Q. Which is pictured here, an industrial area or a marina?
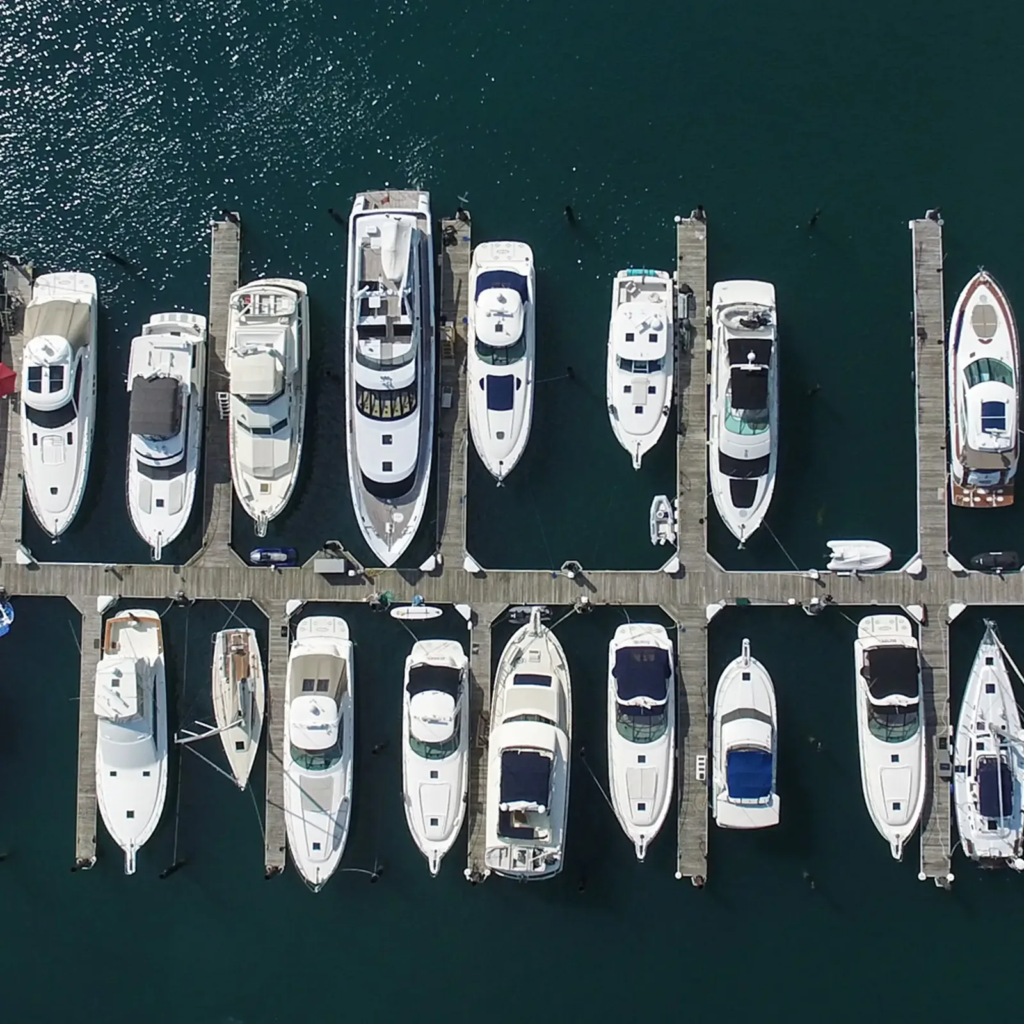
marina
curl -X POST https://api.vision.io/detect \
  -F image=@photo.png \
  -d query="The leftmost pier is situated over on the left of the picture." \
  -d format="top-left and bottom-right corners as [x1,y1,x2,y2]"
[0,259,41,565]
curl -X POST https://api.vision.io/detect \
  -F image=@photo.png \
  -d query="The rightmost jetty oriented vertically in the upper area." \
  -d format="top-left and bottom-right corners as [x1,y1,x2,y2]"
[899,211,965,573]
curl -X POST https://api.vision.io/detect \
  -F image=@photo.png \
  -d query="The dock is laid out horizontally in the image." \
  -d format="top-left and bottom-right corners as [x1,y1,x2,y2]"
[0,562,1024,612]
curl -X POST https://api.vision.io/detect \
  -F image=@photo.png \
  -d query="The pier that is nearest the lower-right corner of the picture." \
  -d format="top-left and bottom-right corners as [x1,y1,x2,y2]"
[899,604,967,886]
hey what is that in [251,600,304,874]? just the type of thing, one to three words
pier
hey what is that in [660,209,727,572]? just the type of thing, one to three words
pier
